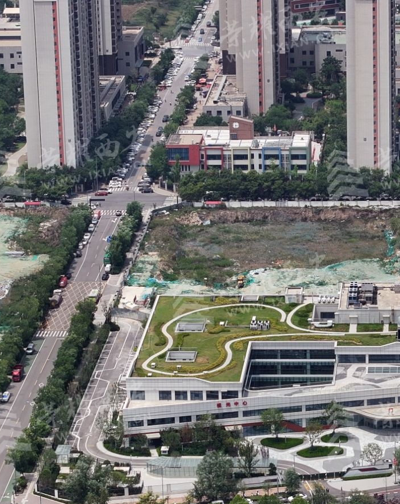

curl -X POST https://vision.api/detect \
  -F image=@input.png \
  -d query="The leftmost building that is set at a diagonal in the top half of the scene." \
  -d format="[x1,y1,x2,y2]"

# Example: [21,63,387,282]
[100,78,129,120]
